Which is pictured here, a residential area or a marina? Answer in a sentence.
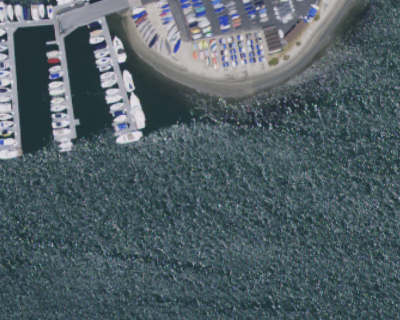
This image shows a marina.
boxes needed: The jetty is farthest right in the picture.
[94,16,136,136]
